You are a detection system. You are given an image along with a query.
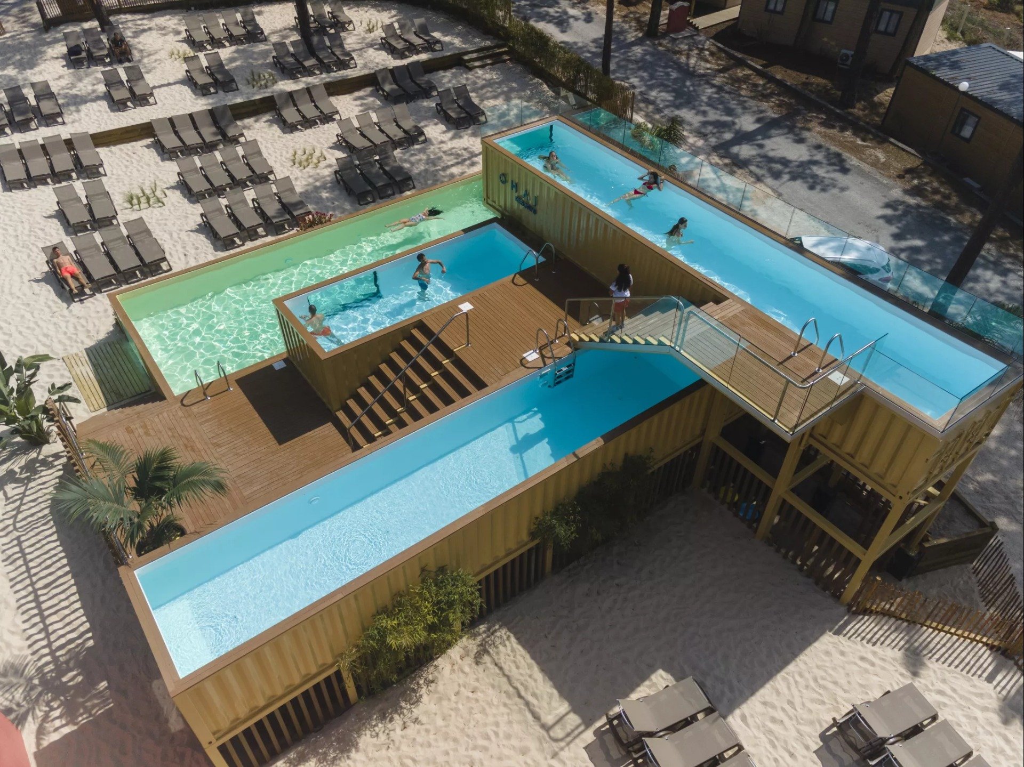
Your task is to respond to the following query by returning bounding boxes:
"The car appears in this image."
[780,231,889,292]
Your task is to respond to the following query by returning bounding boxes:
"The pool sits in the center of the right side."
[481,114,1024,502]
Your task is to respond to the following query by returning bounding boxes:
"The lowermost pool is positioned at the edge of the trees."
[118,345,714,746]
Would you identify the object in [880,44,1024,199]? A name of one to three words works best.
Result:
building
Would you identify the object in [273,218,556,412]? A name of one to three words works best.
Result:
swimming pool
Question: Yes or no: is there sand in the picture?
Yes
